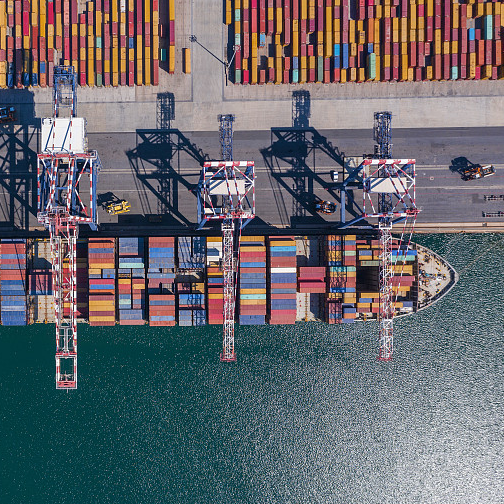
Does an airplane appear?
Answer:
No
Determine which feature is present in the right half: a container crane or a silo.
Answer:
container crane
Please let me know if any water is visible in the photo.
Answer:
Yes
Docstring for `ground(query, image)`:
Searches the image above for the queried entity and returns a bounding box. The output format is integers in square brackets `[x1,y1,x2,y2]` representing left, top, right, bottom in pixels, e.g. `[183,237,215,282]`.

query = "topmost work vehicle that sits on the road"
[0,106,18,123]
